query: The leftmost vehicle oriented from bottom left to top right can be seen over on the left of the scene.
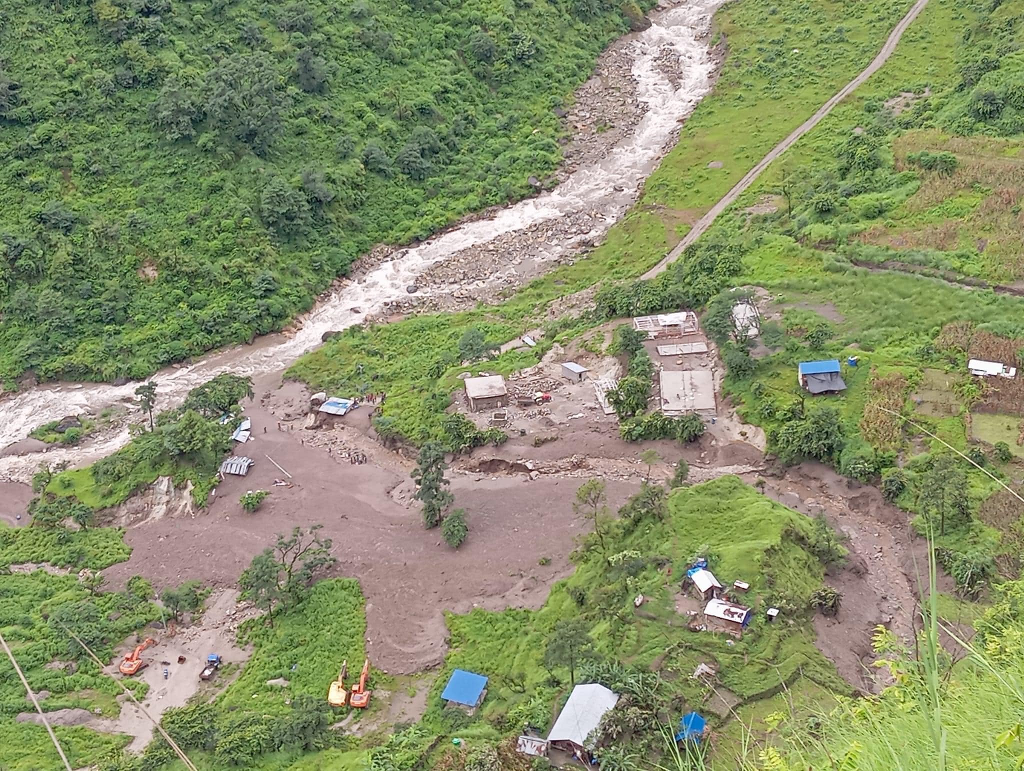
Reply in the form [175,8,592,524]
[118,638,154,678]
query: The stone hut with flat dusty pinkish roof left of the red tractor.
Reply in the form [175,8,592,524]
[465,375,508,411]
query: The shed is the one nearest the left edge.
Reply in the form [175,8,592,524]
[321,395,352,419]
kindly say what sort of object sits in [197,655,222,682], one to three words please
truck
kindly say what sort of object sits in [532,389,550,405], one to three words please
work vehicle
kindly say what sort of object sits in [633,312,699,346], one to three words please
building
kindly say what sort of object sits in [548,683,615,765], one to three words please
house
